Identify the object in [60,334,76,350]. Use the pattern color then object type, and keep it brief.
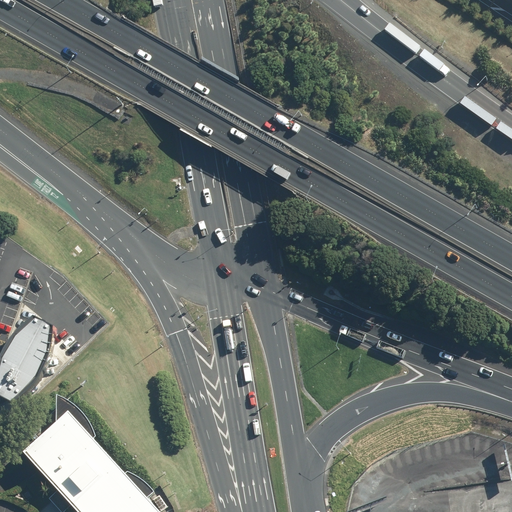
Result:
white car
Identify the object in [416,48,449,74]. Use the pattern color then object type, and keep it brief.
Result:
white truck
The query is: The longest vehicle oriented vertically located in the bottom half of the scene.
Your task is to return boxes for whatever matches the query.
[222,320,235,354]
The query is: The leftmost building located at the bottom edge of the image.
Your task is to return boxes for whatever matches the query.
[24,394,159,512]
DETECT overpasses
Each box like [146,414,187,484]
[138,26,292,191]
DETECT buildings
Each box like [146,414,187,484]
[0,316,54,401]
[24,394,159,512]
